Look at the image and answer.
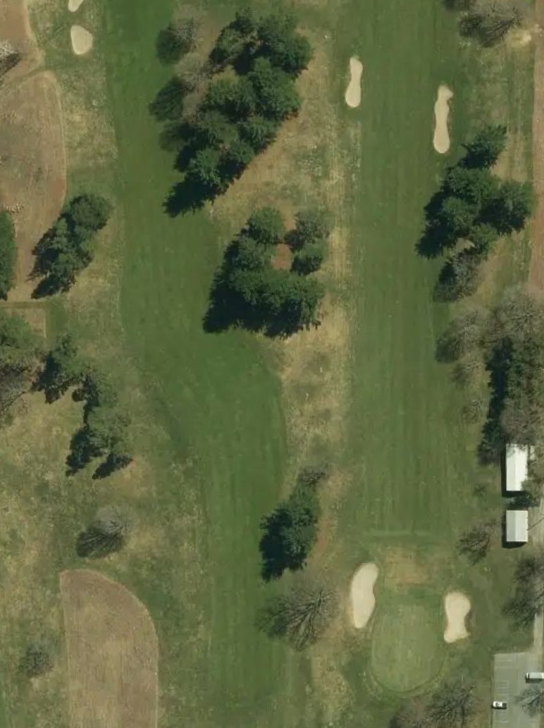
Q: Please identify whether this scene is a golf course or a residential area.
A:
golf course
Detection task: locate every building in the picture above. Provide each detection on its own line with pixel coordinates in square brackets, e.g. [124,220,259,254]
[507,443,529,490]
[507,510,529,542]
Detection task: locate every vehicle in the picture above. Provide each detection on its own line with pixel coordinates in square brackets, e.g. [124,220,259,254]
[492,702,508,707]
[526,673,544,680]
